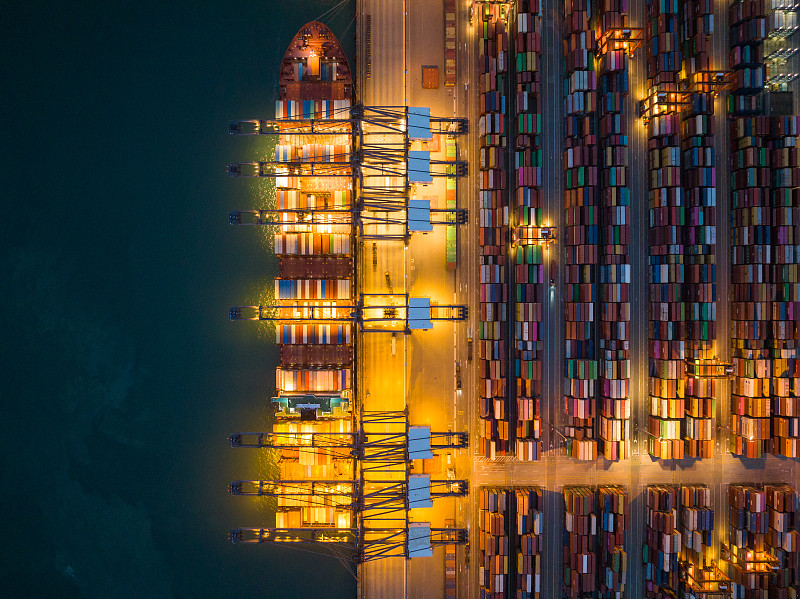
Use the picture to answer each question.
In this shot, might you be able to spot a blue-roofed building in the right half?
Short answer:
No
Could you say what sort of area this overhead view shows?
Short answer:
port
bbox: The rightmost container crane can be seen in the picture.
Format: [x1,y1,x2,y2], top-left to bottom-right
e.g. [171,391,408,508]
[722,544,780,573]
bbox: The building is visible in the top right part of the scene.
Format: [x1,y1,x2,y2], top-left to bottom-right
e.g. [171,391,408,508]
[762,91,794,119]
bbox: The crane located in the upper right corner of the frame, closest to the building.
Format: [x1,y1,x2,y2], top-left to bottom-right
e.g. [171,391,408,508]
[679,69,733,98]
